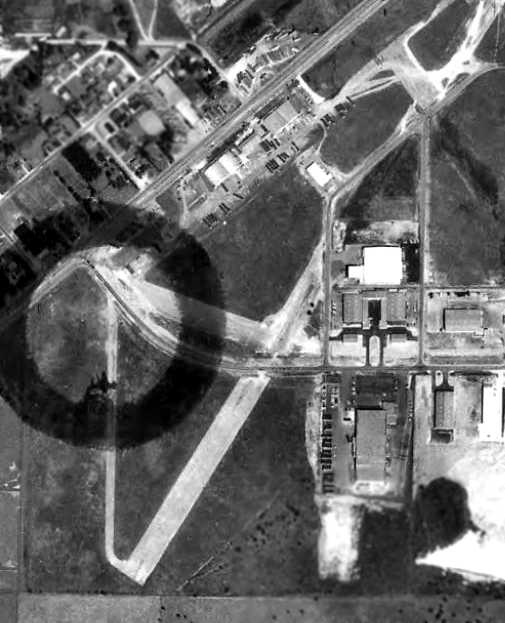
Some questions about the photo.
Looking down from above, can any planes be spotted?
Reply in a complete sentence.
No, I find no plane anywhere in the image.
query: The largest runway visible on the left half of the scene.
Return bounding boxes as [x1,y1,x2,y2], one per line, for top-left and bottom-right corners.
[106,378,270,584]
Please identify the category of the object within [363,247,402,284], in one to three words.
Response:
building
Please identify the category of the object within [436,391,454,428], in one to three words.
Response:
shed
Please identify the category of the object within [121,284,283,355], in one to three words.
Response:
runway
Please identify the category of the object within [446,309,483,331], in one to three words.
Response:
building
